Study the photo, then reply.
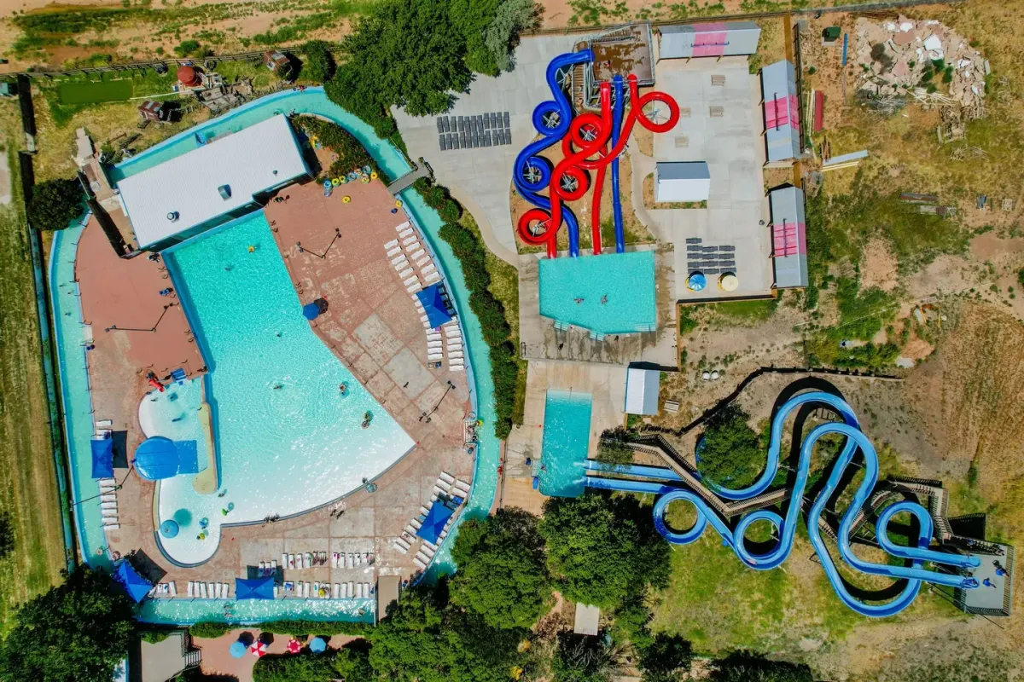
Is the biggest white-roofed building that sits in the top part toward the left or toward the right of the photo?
left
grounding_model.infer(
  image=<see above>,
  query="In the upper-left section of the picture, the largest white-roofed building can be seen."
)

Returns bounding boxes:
[116,113,316,252]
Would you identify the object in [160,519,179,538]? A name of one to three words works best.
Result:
fountain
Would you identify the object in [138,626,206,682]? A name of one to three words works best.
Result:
building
